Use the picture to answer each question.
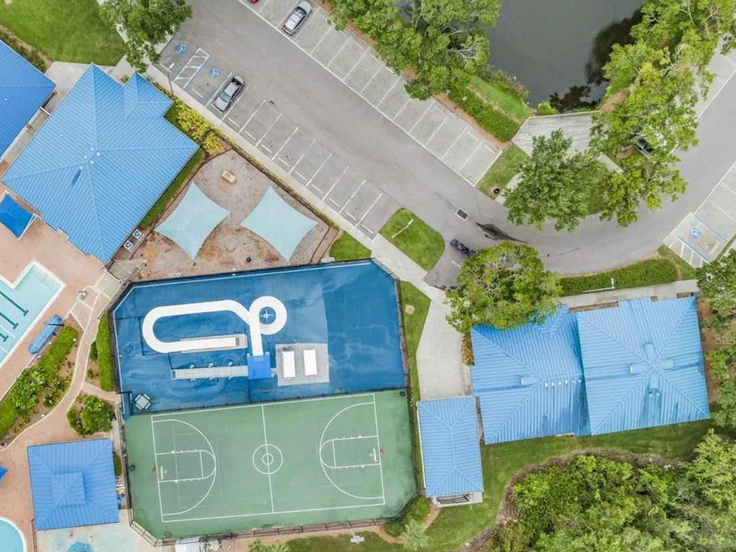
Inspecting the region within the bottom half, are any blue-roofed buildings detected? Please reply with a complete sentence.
Yes, looking within the bottom half, one can make out a blue-roofed building.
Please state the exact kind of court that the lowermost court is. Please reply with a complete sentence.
It turns out the lowermost court is a basketball court.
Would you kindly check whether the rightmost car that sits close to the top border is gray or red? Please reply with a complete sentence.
In this view, the rightmost car that sits close to the top border is gray.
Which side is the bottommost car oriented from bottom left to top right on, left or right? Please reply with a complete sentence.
The bottommost car oriented from bottom left to top right appears in the left half of the scene.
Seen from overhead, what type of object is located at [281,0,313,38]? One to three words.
car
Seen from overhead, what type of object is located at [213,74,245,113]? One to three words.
car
